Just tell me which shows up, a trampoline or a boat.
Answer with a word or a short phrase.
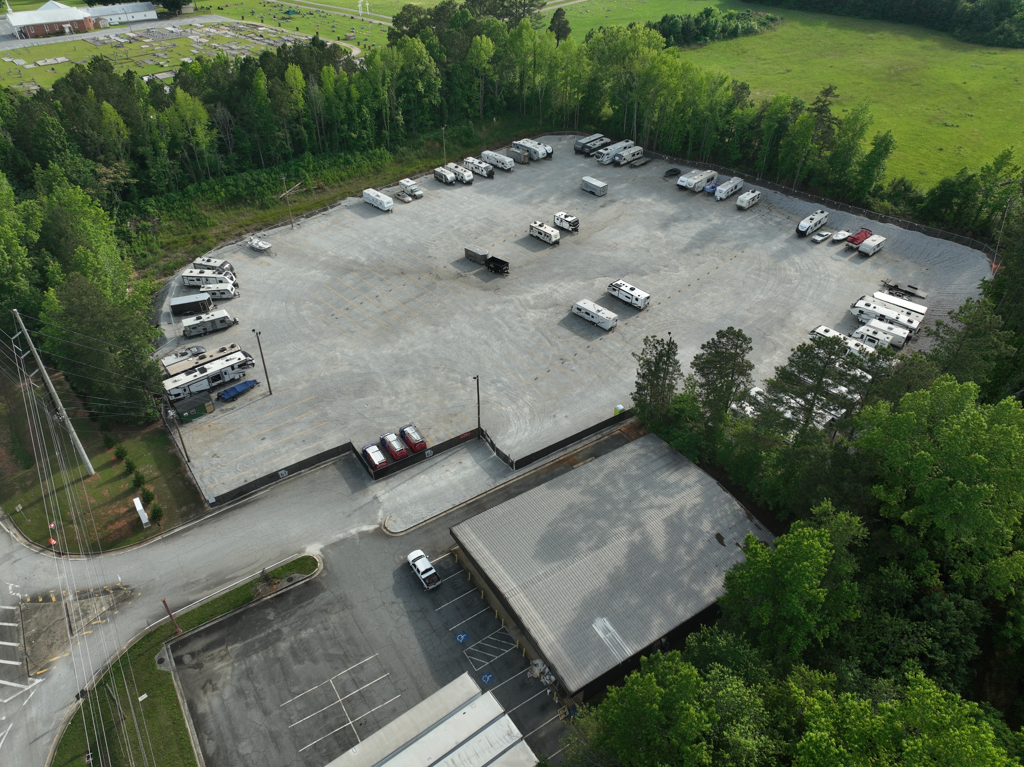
boat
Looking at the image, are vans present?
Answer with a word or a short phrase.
Yes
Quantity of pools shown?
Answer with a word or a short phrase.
zero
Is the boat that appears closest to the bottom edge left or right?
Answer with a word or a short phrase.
left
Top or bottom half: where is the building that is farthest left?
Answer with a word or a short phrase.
top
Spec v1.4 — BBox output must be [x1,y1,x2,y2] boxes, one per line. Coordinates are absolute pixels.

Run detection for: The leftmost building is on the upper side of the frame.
[3,0,91,39]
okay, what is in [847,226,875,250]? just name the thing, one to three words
boat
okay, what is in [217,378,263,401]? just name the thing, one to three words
boat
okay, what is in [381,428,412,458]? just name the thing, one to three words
van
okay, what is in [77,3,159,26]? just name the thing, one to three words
building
